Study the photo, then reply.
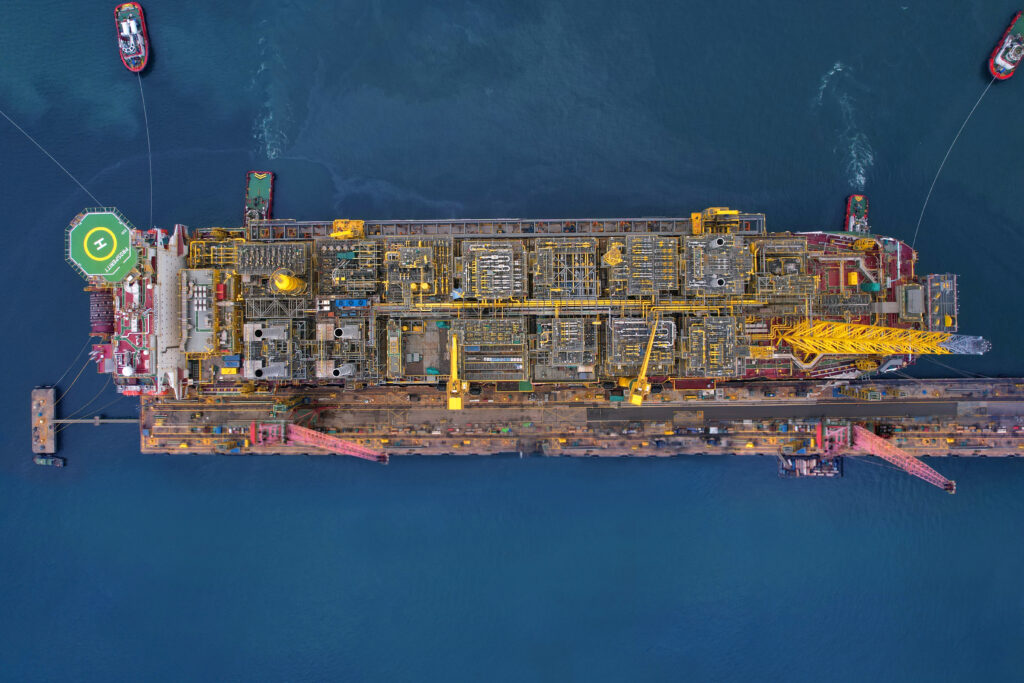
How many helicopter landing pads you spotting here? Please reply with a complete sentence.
In total, there is 1 helicopter landing pad in the scene.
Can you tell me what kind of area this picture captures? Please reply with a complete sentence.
It's a port.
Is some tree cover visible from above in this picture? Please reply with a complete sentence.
No, tree cover can't be seen anywhere here.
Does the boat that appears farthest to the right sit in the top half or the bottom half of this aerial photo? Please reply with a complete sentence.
You can find the boat that appears farthest to the right in the top half.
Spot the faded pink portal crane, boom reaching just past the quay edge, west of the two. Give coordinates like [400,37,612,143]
[250,419,396,465]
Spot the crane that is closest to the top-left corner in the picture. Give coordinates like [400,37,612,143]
[330,219,365,239]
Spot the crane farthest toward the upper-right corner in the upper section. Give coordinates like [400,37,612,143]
[688,207,739,235]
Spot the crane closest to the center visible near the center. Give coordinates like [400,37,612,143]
[447,333,470,409]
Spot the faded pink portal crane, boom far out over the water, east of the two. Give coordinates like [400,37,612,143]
[814,421,955,494]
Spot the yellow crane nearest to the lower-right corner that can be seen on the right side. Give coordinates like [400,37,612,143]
[628,319,659,405]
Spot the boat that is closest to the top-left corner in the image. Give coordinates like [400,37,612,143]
[115,1,150,71]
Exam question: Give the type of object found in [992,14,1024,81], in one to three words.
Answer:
boat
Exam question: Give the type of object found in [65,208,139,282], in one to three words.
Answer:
helipad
